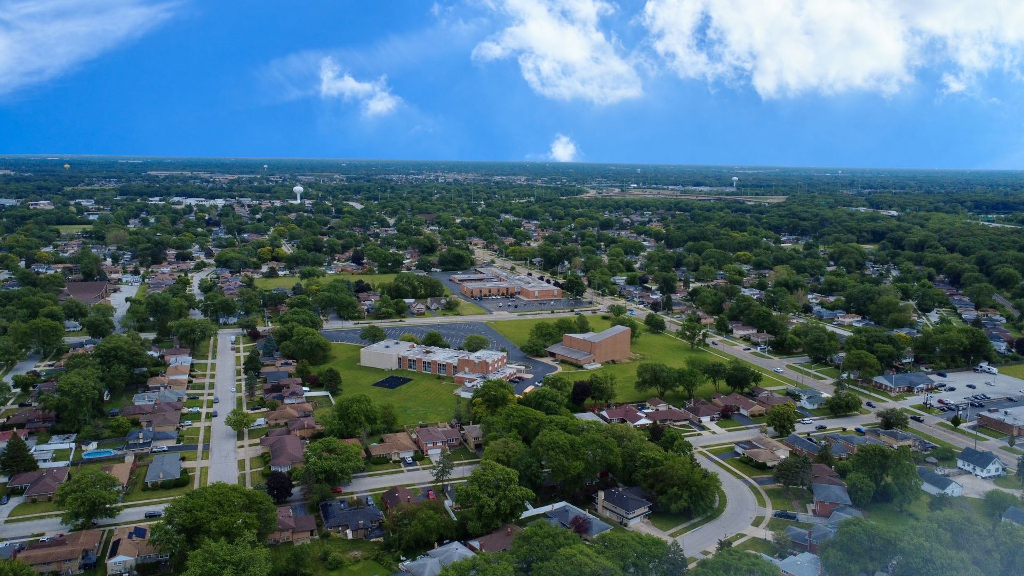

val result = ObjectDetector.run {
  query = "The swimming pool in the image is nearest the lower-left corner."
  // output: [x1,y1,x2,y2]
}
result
[80,448,119,462]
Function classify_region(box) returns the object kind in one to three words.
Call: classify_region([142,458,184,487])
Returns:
house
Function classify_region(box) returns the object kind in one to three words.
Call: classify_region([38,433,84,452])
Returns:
shed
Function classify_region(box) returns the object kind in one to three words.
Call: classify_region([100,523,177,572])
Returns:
house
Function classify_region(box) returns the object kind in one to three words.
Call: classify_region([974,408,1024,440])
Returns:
building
